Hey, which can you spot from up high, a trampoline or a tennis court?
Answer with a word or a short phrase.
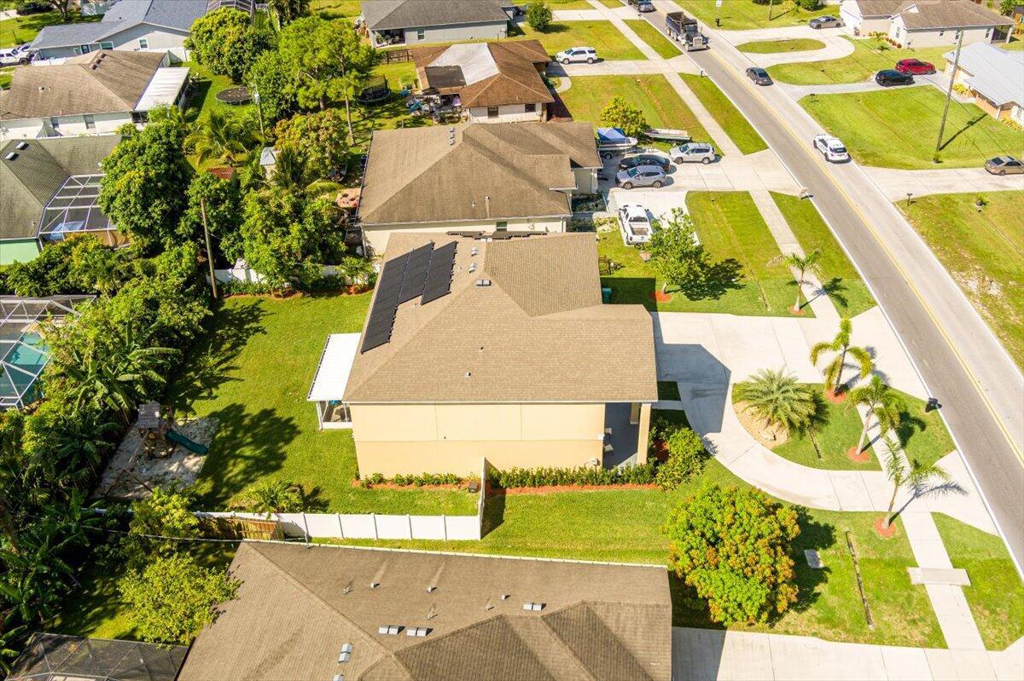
trampoline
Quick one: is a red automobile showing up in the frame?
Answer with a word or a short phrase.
Yes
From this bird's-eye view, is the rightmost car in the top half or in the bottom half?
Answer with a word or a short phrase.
top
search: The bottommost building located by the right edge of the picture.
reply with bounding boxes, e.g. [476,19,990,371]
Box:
[940,38,1024,129]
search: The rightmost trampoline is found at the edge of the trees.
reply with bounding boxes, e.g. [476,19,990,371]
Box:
[354,73,391,106]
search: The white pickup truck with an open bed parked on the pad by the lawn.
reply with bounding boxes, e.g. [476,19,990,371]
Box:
[623,211,651,248]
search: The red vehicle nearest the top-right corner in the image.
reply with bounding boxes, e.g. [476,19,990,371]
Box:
[896,57,937,74]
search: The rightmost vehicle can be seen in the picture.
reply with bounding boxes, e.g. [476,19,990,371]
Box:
[980,152,1024,174]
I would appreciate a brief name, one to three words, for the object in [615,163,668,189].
car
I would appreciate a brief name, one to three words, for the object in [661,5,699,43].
truck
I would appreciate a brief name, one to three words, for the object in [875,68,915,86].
car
